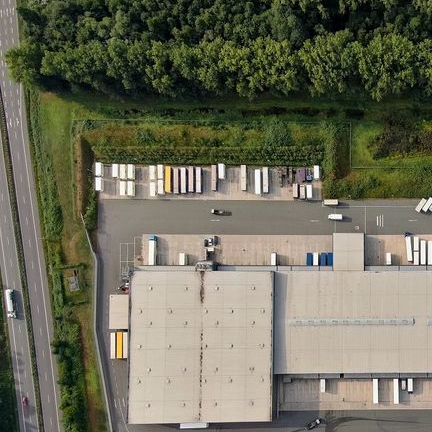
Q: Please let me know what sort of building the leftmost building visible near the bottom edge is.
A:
warehouse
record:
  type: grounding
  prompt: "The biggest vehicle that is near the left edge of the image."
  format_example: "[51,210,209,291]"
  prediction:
[7,288,20,318]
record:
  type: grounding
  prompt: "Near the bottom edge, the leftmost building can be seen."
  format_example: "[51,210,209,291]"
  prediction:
[128,266,280,429]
